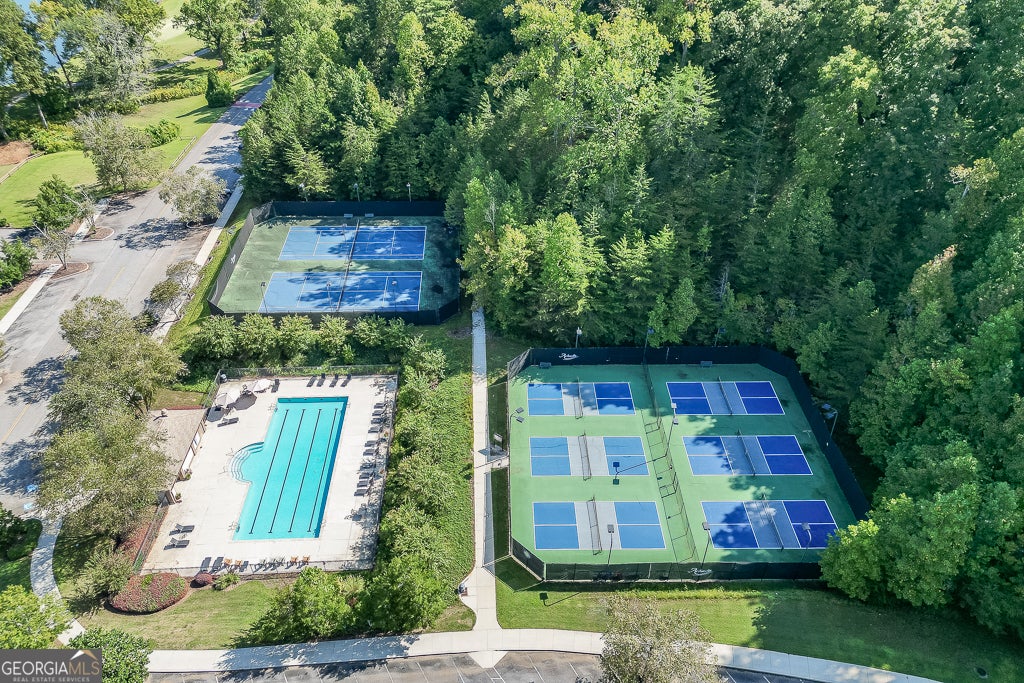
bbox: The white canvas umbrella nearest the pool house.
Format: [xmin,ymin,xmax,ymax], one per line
[216,388,242,411]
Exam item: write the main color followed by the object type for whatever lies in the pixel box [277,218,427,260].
blue tennis court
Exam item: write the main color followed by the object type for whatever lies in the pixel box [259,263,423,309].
blue tennis court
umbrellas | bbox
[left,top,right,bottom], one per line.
[248,377,274,400]
[216,388,242,411]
